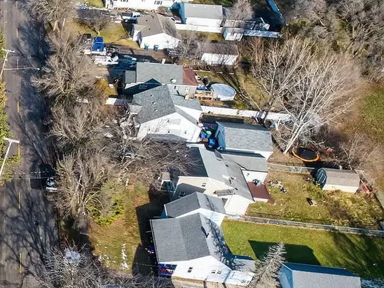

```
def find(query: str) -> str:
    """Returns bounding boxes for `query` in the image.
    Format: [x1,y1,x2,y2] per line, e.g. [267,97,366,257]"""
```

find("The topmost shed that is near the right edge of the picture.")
[314,165,369,194]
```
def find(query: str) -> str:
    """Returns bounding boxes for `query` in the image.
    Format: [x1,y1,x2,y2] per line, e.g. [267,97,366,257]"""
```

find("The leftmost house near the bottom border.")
[138,209,261,285]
